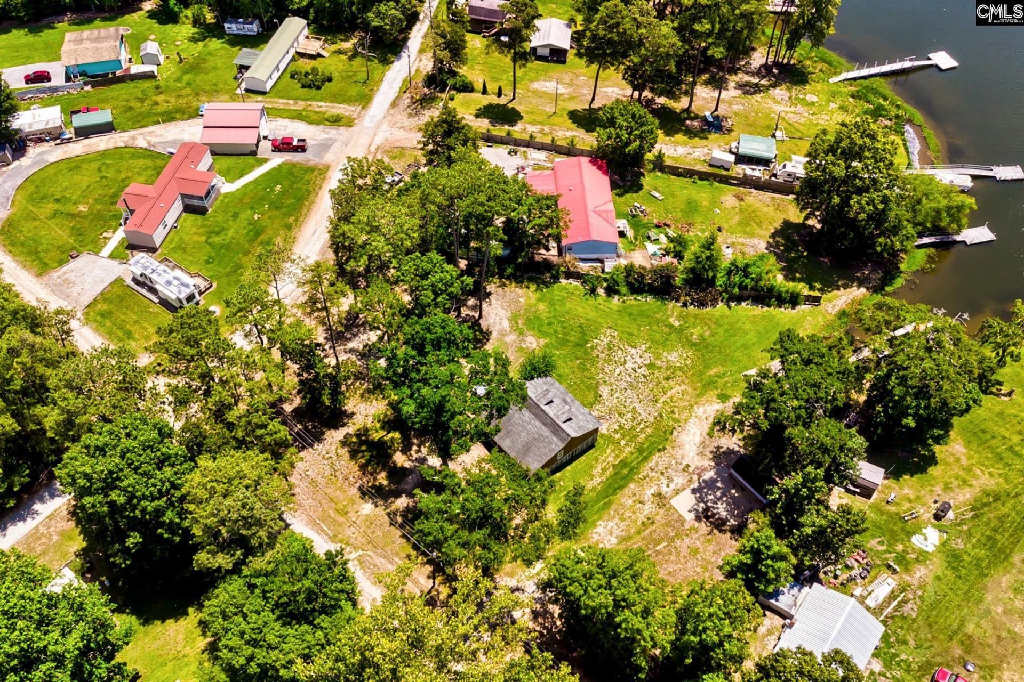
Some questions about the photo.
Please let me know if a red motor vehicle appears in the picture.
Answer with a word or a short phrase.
Yes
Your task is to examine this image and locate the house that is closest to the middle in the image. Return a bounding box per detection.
[490,375,603,476]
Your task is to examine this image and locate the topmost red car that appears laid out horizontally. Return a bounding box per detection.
[21,68,51,84]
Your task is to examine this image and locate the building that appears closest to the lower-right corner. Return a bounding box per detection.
[770,582,885,674]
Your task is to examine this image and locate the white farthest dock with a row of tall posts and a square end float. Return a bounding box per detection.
[827,49,960,83]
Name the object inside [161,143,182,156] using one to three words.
vehicle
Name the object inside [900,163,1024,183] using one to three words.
pier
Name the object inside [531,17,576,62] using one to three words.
house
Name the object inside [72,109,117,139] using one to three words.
shed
